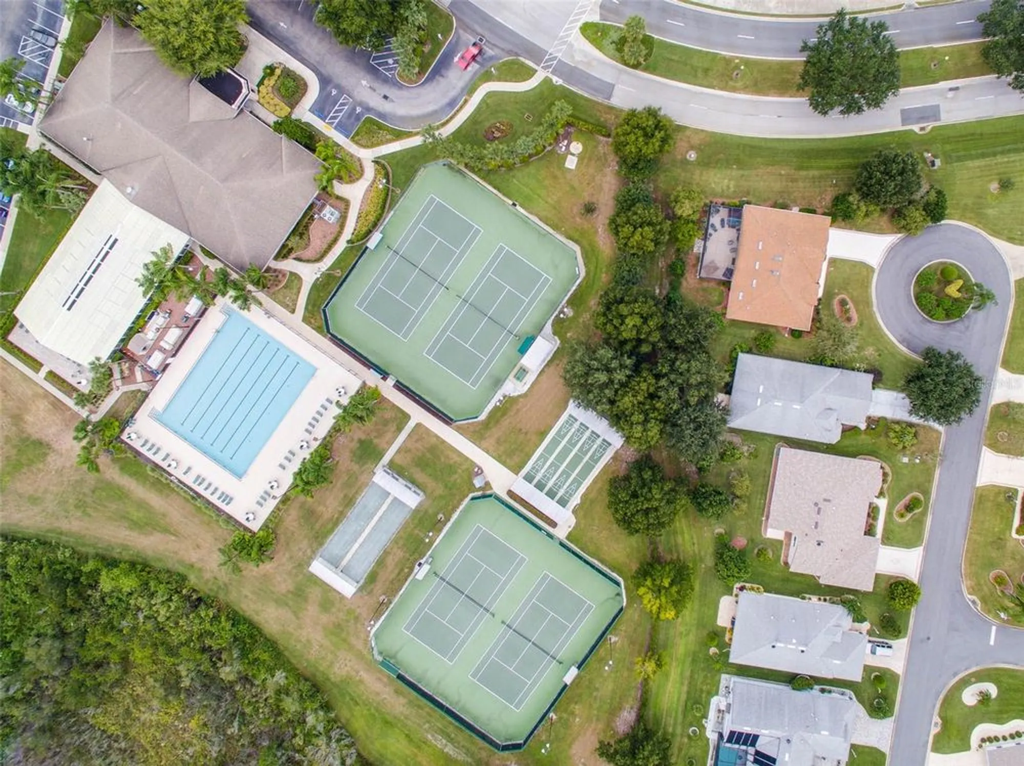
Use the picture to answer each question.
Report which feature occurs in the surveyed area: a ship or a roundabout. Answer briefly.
roundabout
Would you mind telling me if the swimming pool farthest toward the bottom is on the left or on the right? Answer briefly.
right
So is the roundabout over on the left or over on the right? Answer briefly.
right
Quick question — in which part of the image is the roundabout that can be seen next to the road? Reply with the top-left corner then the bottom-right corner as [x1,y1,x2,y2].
[910,258,977,323]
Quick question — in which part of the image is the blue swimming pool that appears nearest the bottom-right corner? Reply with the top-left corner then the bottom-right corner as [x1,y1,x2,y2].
[715,746,740,766]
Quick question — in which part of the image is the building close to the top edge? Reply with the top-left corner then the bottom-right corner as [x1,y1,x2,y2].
[38,22,321,268]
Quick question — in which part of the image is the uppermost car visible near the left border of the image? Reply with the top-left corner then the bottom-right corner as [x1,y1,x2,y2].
[25,26,56,47]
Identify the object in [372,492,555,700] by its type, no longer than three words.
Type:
tennis court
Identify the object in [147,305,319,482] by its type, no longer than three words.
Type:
swimming pool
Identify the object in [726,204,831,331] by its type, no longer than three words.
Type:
house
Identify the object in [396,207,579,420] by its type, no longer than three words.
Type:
tennis court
